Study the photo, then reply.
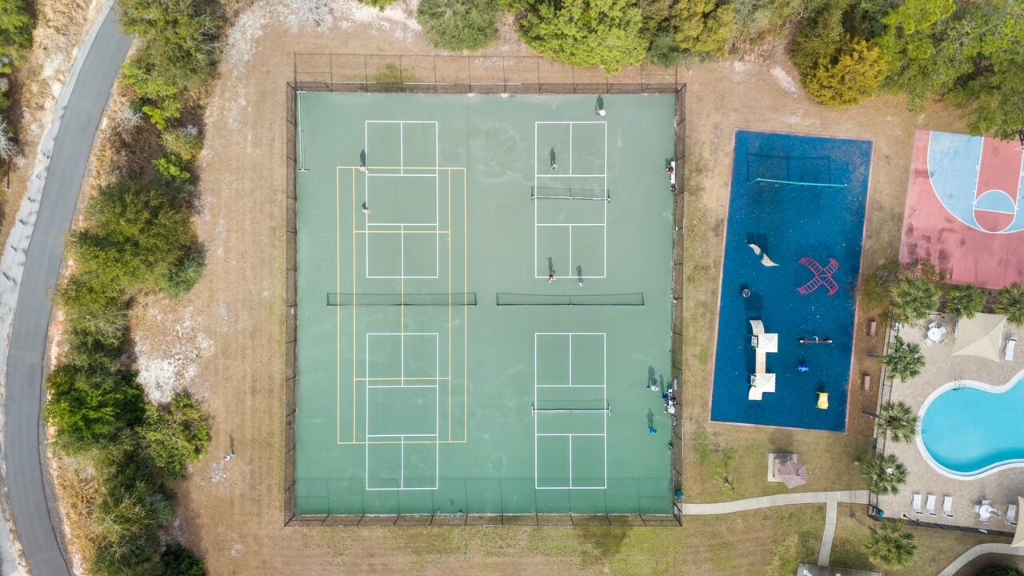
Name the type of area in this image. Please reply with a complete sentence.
This looks like a sports ground.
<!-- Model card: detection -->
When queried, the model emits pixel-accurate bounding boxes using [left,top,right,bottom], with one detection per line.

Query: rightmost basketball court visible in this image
[899,129,1024,287]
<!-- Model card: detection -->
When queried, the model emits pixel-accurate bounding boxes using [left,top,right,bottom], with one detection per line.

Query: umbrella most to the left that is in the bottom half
[778,460,805,487]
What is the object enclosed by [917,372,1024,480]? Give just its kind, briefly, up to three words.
swimming pool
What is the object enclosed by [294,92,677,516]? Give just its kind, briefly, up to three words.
tennis court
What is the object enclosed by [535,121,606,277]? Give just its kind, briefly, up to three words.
sports court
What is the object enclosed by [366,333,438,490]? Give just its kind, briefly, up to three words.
sports court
